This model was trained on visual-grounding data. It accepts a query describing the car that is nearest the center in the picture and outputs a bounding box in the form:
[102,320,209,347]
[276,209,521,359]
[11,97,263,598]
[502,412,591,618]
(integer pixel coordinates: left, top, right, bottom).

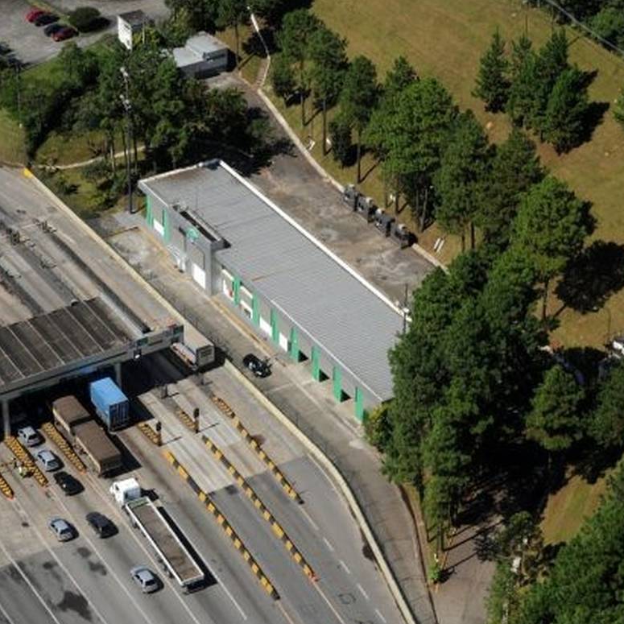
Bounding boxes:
[242,355,270,376]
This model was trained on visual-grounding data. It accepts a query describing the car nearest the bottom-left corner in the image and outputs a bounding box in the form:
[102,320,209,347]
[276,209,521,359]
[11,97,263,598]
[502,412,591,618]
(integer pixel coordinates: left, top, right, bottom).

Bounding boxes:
[48,518,74,544]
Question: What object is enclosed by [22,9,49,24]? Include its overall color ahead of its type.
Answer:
red car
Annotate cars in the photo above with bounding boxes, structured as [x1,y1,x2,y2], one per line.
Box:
[40,22,67,37]
[48,27,76,42]
[34,452,60,476]
[48,518,74,544]
[31,14,58,29]
[15,428,41,451]
[52,472,81,499]
[22,9,49,24]
[84,512,116,540]
[128,567,160,597]
[242,355,270,376]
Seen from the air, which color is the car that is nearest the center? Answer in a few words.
black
